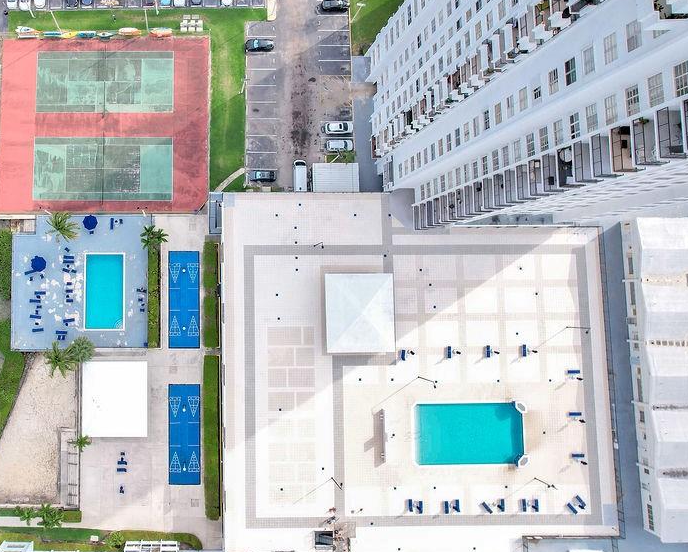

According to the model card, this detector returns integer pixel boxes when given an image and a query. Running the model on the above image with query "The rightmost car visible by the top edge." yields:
[321,0,349,12]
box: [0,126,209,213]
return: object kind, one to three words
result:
tennis court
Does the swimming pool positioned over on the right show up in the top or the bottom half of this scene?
bottom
